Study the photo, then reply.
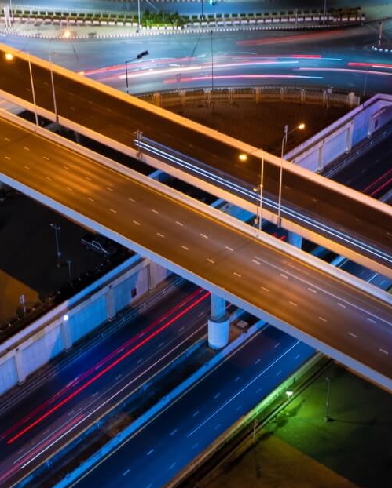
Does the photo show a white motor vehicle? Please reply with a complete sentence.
No, no white motor vehicle is visible in the scene.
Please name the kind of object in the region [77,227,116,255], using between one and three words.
truck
